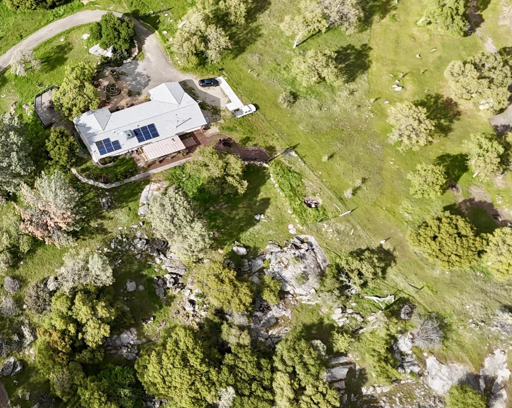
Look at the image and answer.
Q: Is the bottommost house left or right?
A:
left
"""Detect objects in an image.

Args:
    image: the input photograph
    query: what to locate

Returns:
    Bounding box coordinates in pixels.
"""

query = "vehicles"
[198,78,220,88]
[231,106,257,120]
